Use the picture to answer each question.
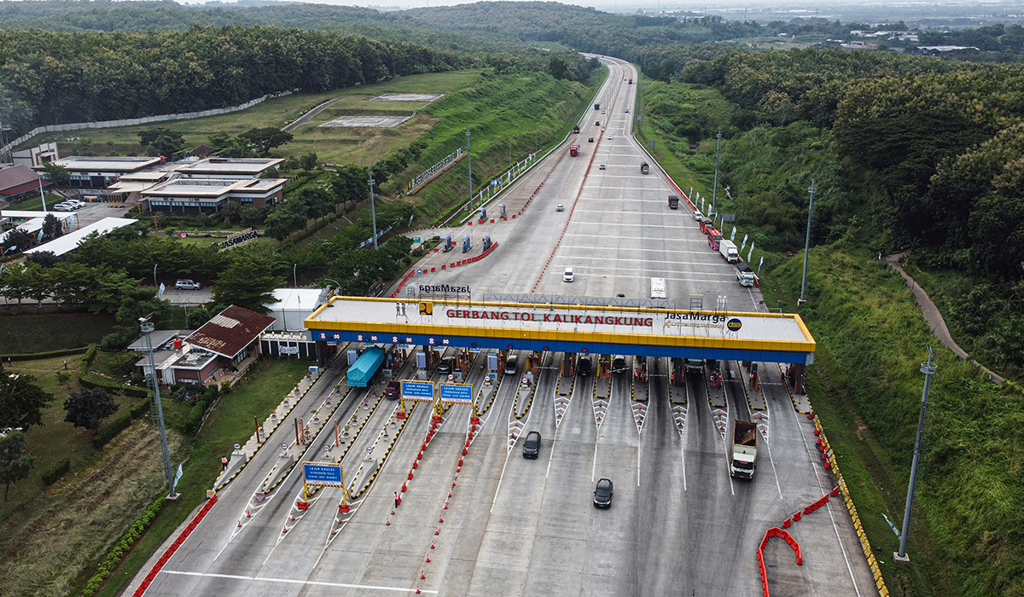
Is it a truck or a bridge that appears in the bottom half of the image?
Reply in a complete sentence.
You can see a truck in the bottom half of the image.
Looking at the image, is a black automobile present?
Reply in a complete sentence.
Yes, a black automobile can be made out from above.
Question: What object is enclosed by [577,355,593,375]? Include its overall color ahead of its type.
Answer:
black car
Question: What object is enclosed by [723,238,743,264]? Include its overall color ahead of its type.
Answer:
white vehicle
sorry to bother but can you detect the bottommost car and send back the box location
[595,476,616,507]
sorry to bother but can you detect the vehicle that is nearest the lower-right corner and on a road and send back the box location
[725,425,757,478]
